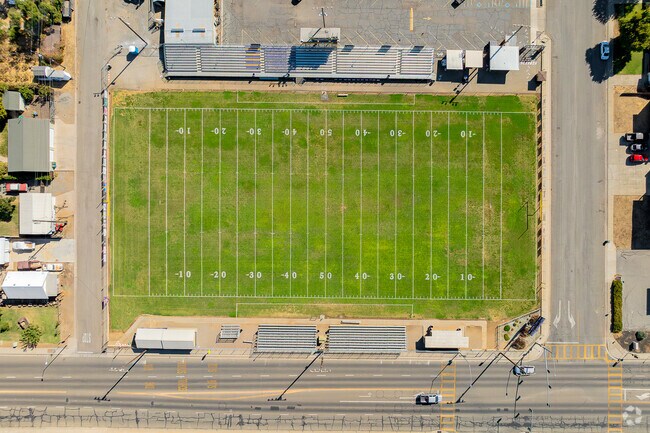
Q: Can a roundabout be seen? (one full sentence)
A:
No, the scene contains no roundabout.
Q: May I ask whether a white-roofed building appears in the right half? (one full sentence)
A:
Yes, a white-roofed building appears in the right half.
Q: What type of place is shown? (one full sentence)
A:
The picture captures a sports ground.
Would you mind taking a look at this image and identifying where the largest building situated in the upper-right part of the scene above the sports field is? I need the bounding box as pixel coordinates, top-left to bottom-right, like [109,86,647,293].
[487,46,519,72]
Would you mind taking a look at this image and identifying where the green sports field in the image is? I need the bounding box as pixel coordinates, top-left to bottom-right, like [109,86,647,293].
[105,88,541,336]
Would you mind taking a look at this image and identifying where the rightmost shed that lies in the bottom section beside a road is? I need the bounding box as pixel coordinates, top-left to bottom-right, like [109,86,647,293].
[161,326,198,349]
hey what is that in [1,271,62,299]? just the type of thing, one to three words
house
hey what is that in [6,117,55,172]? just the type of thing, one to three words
building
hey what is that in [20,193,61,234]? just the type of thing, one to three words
house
